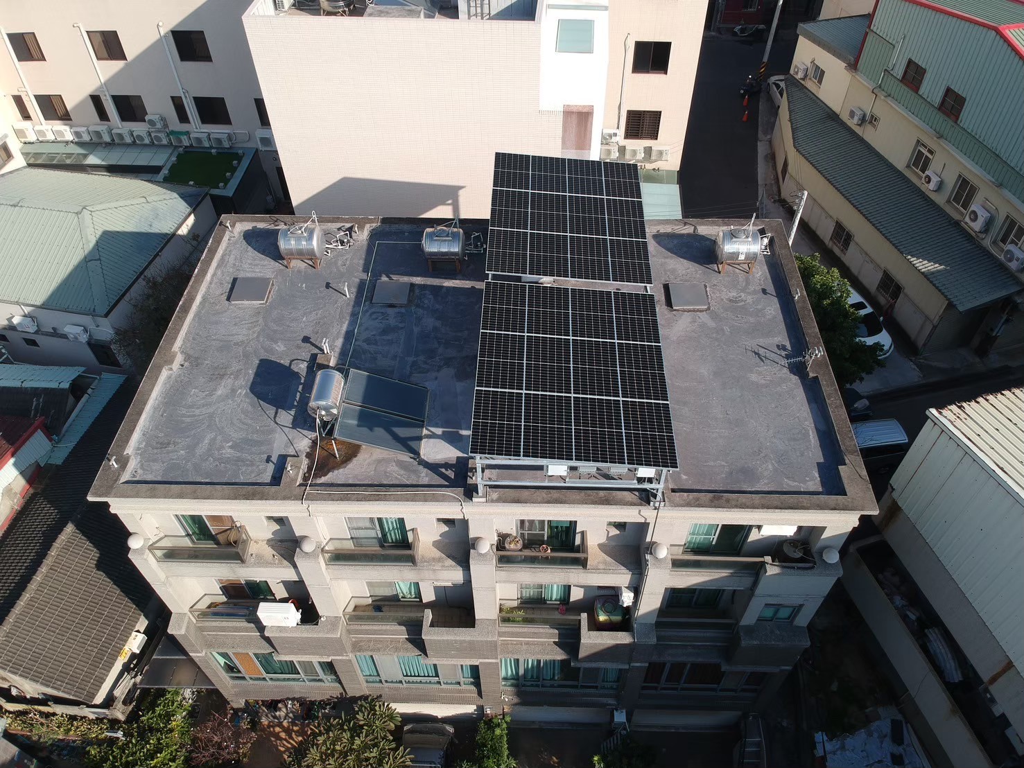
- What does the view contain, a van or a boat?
van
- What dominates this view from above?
buildings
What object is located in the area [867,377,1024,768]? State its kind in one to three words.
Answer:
warehouse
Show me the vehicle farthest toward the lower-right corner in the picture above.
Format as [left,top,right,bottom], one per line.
[852,420,906,477]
